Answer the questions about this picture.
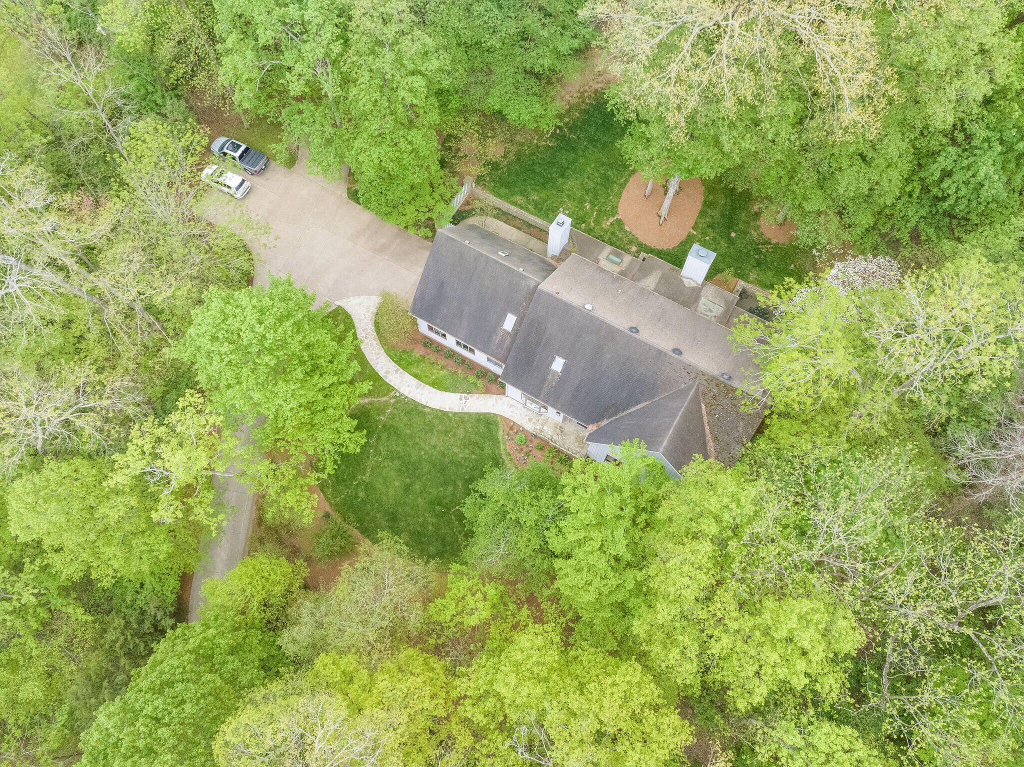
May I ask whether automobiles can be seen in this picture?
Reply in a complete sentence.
Yes, the frame does contain an automobile.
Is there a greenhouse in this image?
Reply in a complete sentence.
No, there's no greenhouse here.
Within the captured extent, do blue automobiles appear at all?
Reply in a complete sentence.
No, the photo shows no blue automobile.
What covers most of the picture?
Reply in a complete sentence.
The largest share of the image is taken up by trees.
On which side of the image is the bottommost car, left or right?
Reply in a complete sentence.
The bottommost car is on the left side of the image.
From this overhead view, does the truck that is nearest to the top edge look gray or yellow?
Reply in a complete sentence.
The color of the truck that is nearest to the top edge is gray.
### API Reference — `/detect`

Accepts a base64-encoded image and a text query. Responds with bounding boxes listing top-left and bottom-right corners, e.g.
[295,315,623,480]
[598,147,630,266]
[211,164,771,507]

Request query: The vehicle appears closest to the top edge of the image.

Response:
[209,134,272,177]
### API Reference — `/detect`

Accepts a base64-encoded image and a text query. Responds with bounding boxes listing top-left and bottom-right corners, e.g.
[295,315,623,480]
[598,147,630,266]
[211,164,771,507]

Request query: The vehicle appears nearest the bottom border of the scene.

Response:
[198,170,250,205]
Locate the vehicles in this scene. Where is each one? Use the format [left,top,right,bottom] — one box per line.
[209,134,272,177]
[198,170,250,205]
